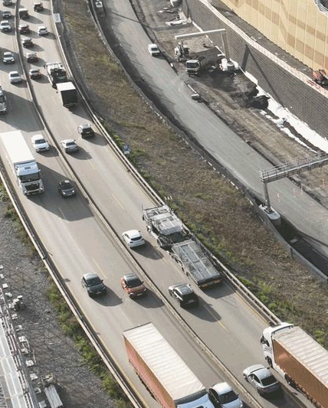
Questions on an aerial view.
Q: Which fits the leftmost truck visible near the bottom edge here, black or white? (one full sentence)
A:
The color of the leftmost truck visible near the bottom edge is white.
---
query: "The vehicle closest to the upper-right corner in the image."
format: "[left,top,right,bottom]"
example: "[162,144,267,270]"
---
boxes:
[311,62,328,84]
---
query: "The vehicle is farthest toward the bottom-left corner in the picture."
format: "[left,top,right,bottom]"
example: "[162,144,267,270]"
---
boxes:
[79,270,109,300]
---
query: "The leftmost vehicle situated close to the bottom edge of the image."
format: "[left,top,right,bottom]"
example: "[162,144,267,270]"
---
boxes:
[123,323,219,408]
